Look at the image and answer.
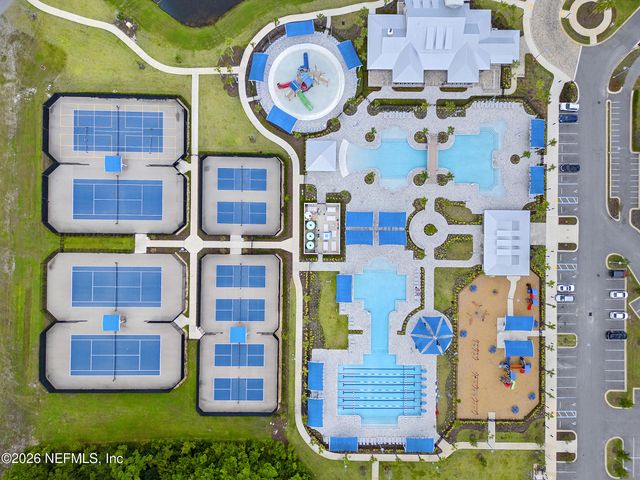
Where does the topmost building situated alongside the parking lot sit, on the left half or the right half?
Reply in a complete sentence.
It is on the right.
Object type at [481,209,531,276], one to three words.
building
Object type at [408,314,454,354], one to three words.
umbrella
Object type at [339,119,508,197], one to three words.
swimming pool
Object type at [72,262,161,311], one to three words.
tennis court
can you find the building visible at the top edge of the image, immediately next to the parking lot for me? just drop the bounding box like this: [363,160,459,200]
[368,0,520,87]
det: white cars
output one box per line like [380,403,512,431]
[555,294,574,302]
[609,291,628,299]
[556,284,575,292]
[609,311,628,320]
[559,102,579,112]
